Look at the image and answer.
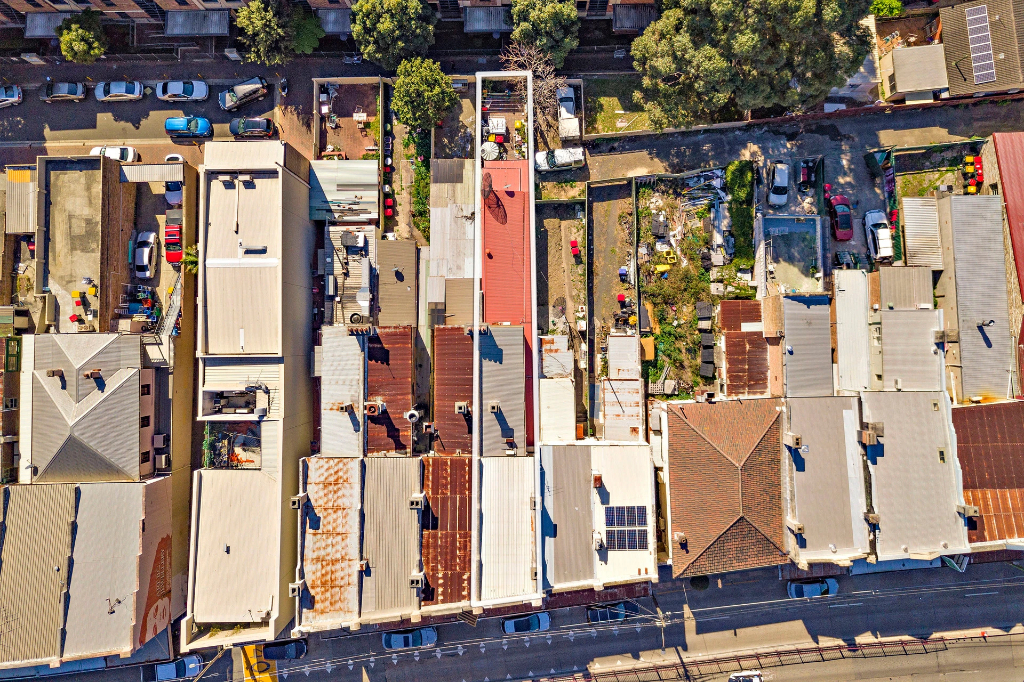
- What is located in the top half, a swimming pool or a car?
car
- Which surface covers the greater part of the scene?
buildings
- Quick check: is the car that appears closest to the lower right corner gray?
No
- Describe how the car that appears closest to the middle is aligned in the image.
from side to side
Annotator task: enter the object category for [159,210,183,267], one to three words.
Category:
vehicle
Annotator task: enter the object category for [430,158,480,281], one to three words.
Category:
shed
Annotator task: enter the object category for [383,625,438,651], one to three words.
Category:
car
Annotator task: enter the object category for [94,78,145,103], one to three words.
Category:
car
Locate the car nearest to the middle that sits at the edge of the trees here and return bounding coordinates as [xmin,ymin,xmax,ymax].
[535,147,586,172]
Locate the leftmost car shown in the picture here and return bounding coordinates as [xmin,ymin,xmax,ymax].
[0,84,28,107]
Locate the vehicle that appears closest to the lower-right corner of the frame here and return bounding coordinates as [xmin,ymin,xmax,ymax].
[787,577,839,602]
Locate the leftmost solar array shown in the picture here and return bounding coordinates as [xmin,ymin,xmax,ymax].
[605,507,647,550]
